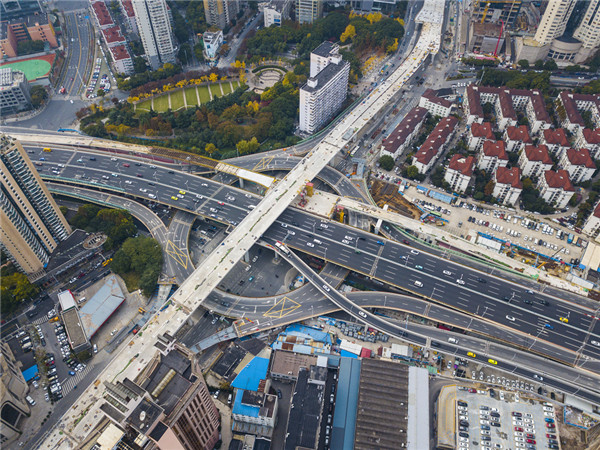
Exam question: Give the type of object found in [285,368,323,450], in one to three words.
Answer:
shed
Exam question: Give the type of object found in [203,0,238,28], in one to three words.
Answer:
building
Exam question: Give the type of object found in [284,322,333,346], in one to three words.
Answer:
shed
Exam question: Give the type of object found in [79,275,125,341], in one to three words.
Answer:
building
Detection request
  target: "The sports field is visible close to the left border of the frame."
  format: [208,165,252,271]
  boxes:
[12,53,55,79]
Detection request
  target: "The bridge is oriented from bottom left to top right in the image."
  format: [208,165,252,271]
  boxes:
[33,0,448,450]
